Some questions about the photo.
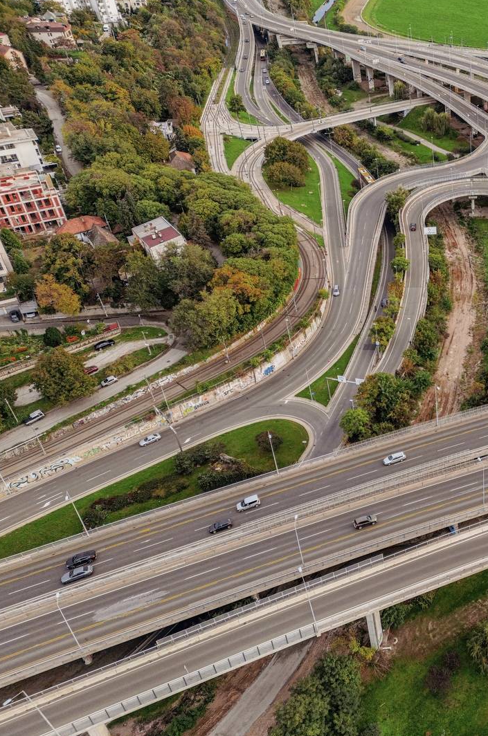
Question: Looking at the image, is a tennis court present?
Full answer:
No, no tennis court is visible in the scene.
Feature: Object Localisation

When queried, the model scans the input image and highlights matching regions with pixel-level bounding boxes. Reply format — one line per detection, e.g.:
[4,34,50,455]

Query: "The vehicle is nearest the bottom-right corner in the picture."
[350,513,379,530]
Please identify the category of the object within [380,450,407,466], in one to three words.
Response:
car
